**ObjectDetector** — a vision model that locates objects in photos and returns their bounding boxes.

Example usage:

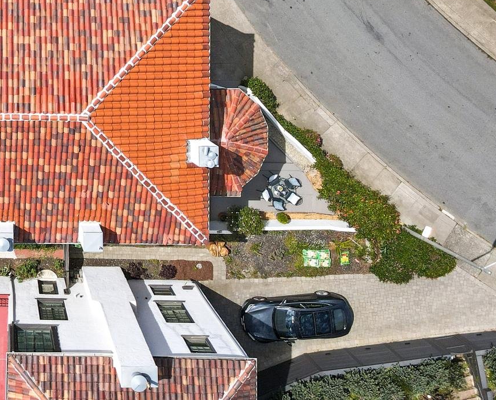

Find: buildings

[4,267,261,400]
[0,0,271,253]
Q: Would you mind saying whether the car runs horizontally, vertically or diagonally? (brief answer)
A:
horizontally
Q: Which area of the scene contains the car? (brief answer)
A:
bottom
